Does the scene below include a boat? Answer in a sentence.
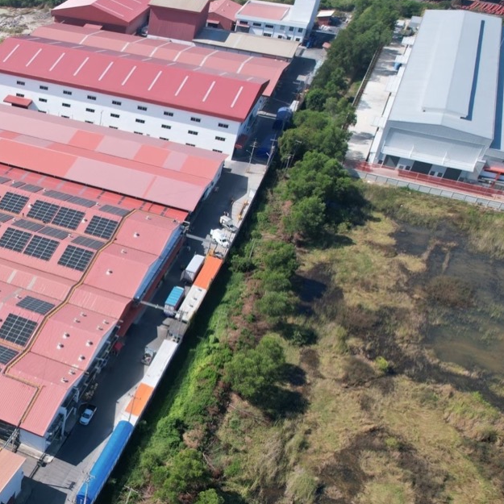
No, there's no boat here.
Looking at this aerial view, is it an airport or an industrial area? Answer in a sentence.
It's an industrial area.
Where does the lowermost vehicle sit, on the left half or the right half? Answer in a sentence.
You can find the lowermost vehicle on the left side of the picture.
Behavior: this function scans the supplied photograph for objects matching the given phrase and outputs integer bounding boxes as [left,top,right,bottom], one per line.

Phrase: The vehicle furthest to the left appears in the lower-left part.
[77,403,98,426]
